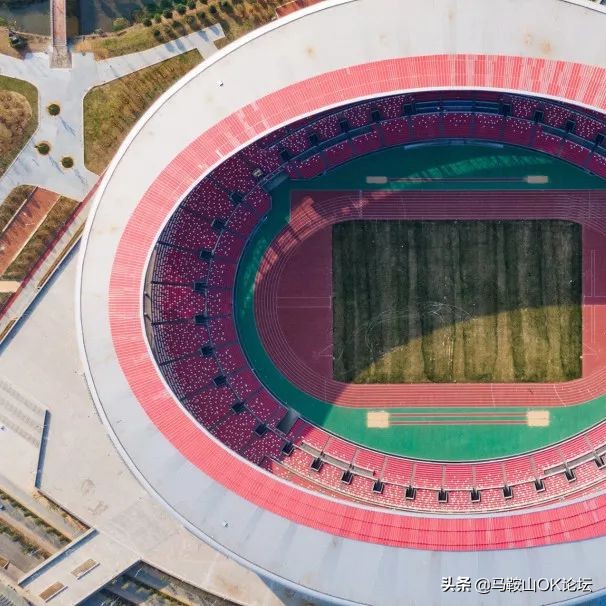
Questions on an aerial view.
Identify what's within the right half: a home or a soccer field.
soccer field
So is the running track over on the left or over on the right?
right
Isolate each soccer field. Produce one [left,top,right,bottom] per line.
[333,220,582,383]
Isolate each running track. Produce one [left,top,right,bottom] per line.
[254,191,606,408]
